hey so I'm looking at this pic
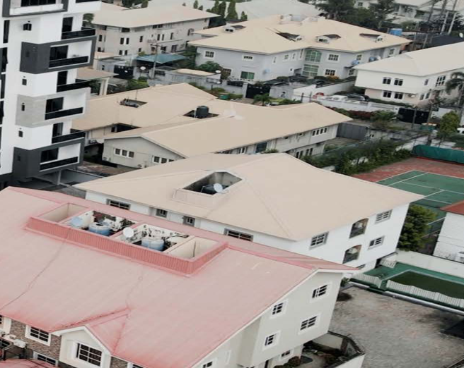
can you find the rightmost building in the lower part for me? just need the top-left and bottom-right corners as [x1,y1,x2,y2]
[434,201,464,258]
